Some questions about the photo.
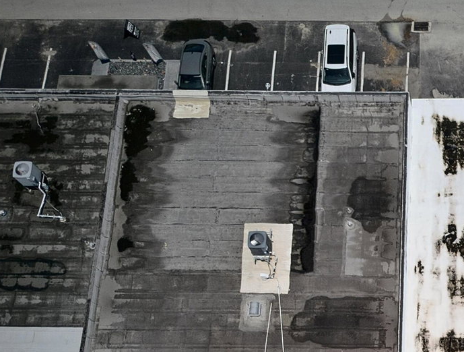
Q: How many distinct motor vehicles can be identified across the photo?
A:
2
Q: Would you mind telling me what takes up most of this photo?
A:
buildings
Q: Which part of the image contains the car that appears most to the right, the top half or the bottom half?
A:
top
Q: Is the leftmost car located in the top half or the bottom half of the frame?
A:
top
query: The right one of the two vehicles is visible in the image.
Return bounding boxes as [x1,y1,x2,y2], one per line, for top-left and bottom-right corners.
[318,27,359,93]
